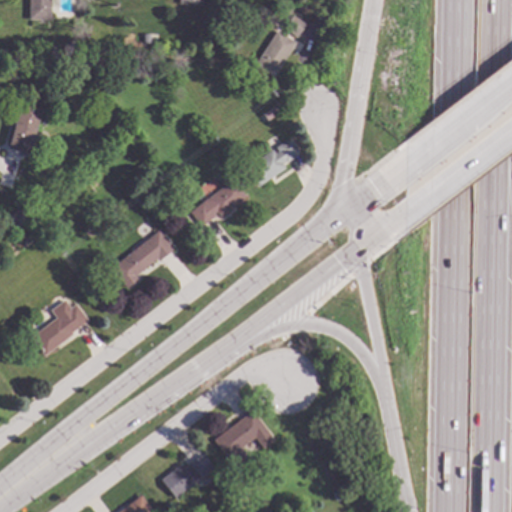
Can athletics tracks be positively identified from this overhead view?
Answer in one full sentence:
No, no athletics track is visible in the view.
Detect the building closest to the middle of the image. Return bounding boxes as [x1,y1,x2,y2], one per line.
[192,179,248,226]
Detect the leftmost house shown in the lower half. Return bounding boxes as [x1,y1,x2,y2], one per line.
[37,298,90,355]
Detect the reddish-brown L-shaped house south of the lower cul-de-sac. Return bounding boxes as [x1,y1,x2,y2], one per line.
[216,410,276,458]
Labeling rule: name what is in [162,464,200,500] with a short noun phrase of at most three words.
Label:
house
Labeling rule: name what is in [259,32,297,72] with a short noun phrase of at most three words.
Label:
house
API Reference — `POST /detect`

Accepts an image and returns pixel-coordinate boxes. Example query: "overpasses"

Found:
[357,60,512,264]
